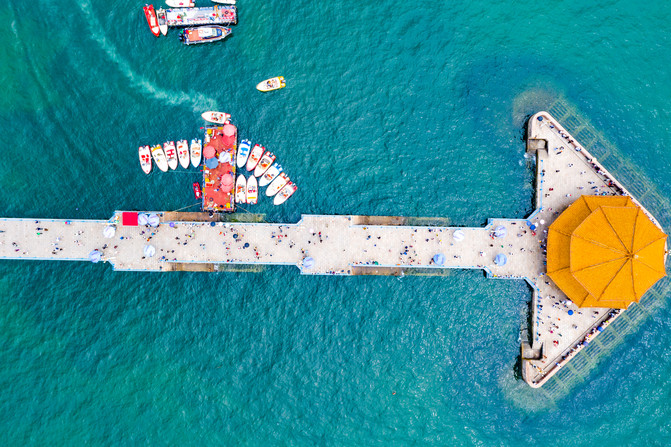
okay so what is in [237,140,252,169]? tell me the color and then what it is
white boat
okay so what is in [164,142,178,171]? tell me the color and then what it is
white boat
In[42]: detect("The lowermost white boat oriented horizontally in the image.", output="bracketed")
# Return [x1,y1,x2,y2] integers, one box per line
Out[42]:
[201,110,233,125]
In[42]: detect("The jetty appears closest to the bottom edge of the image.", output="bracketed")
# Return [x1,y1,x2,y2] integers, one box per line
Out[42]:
[0,109,671,389]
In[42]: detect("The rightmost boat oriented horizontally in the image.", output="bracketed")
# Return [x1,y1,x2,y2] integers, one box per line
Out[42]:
[256,77,287,92]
